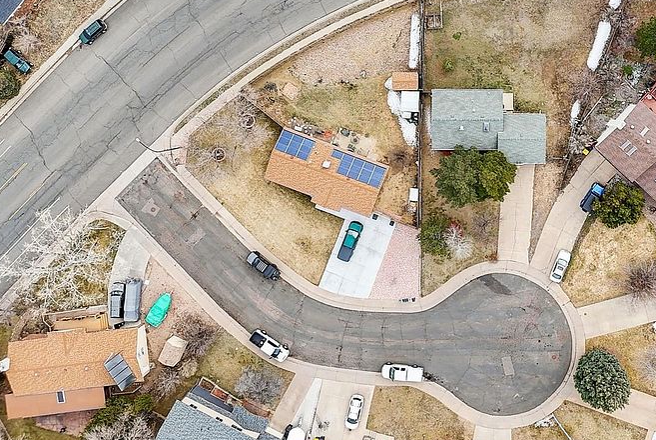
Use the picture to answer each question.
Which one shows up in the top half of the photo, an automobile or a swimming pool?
automobile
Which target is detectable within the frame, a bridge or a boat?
boat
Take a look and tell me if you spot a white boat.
No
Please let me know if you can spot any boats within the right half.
No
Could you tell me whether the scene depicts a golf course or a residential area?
residential area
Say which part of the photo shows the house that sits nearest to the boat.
bottom left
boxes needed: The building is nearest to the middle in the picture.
[266,129,389,219]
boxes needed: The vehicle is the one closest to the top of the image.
[76,17,111,47]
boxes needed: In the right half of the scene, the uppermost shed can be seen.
[391,72,420,89]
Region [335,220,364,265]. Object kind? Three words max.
truck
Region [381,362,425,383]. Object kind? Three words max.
vehicle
